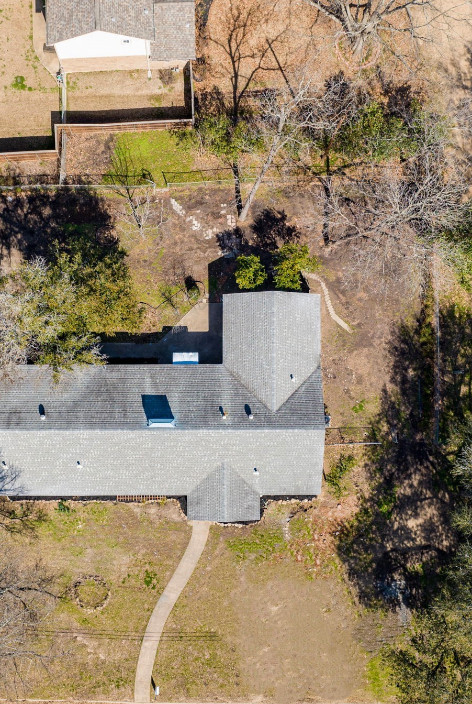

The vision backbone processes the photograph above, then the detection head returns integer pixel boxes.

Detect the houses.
[0,291,327,522]
[43,0,194,82]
